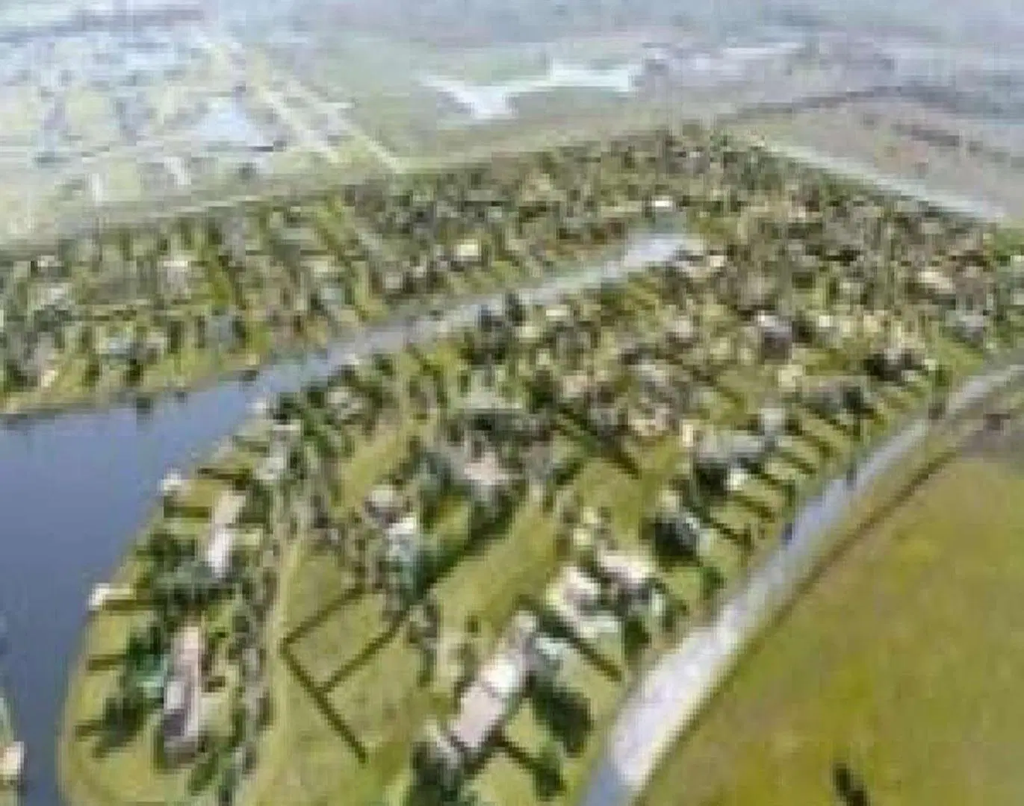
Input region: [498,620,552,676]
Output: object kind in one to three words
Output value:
house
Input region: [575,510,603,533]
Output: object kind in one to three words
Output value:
shed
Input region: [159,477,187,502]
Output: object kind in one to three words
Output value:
building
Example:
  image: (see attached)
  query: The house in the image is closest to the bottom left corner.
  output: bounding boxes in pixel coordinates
[0,739,32,789]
